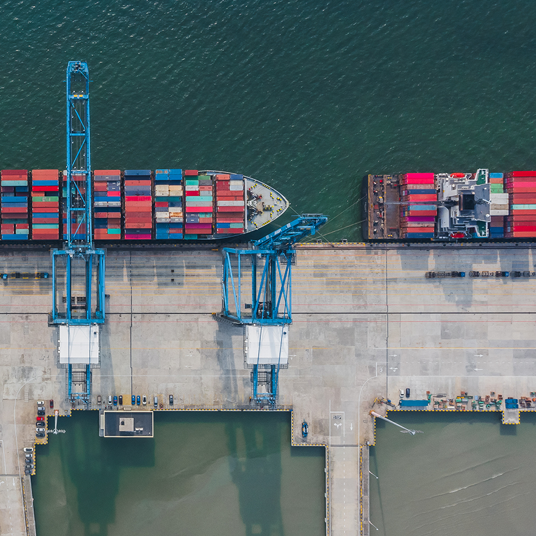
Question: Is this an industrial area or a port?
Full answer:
What you see here is a port.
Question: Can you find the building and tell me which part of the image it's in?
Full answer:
The building sits in the bottom left section of the image.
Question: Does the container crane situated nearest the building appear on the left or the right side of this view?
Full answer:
The container crane situated nearest the building is on the left side of the image.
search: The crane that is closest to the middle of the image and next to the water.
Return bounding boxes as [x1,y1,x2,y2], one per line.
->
[215,216,328,405]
